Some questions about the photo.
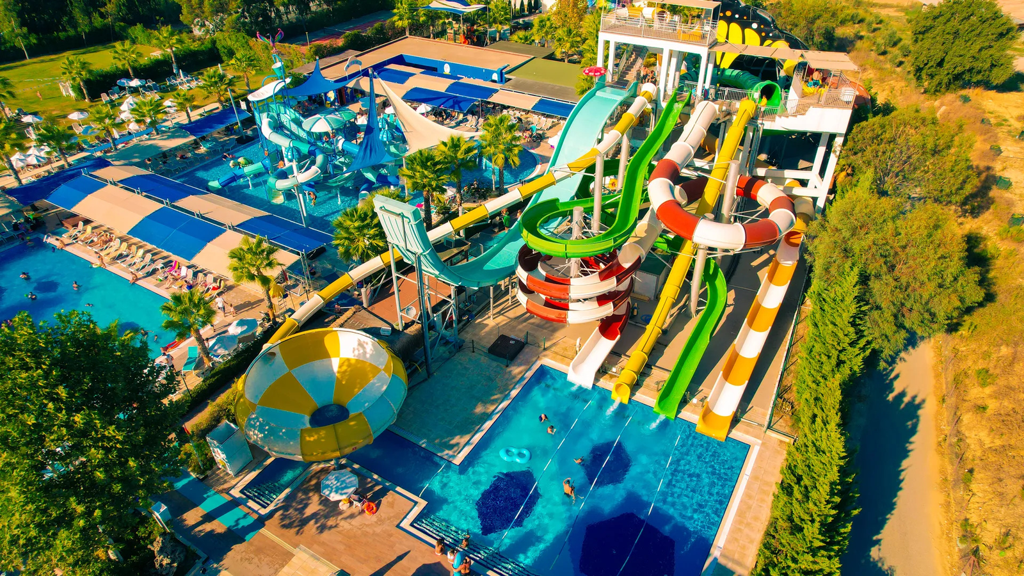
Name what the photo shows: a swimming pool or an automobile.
swimming pool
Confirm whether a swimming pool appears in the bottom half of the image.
Yes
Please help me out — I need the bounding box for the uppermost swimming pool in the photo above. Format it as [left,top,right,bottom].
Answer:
[181,118,543,226]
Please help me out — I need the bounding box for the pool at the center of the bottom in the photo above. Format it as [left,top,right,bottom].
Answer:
[241,363,750,576]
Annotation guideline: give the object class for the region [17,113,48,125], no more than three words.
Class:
umbrella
